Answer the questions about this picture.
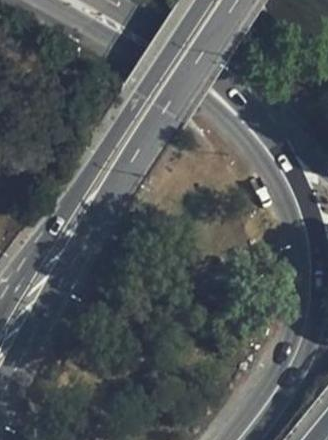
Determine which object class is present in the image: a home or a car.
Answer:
car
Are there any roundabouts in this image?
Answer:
No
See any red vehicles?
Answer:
No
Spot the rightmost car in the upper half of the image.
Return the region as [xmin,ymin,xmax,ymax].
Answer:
[276,152,293,173]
